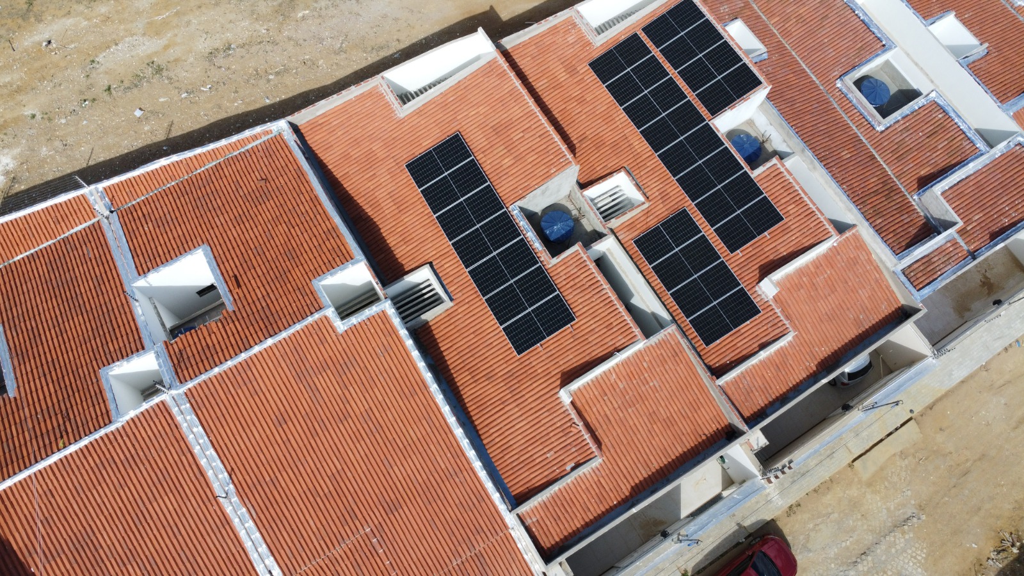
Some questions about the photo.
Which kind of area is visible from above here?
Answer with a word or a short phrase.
residential area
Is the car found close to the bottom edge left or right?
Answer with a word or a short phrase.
right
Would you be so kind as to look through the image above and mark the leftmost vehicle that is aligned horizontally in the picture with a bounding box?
[701,532,803,576]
